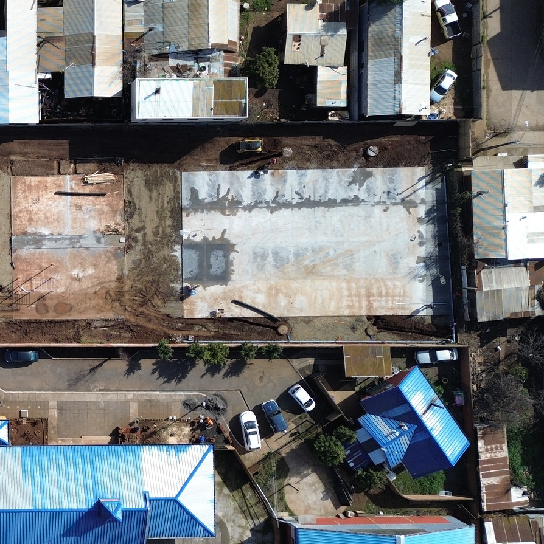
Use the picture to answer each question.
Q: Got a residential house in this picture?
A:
Yes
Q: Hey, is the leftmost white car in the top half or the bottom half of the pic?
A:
bottom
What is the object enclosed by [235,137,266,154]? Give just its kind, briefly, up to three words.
work vehicle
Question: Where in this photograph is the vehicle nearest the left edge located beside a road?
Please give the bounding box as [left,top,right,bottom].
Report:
[4,348,39,366]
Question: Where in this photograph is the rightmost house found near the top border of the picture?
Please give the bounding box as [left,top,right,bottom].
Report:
[358,0,439,119]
